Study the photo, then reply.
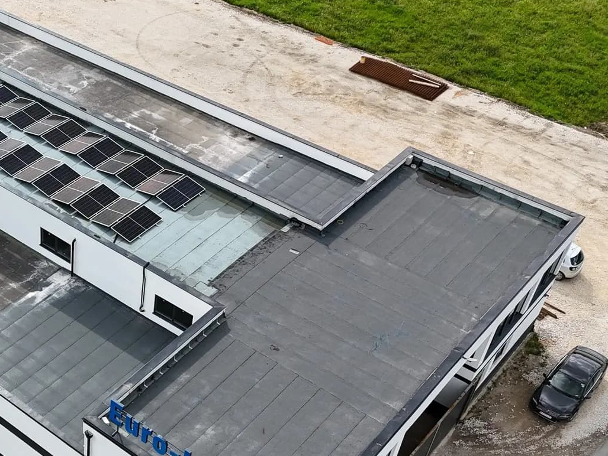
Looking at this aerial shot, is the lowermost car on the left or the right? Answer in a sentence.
The lowermost car sits on the right side.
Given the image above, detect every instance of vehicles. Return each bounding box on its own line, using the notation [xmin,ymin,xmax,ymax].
[533,347,608,427]
[555,243,586,281]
